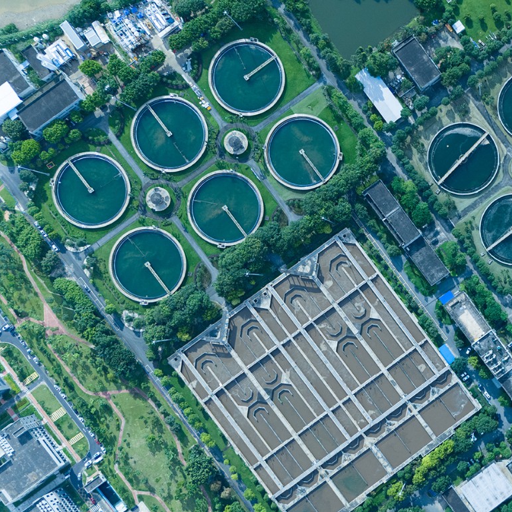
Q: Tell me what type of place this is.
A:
industrial area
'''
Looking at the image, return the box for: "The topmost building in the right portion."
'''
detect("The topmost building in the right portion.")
[392,35,442,93]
